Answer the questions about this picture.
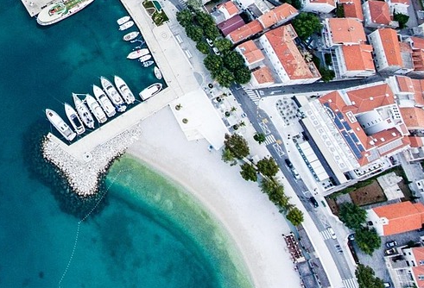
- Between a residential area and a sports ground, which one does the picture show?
residential area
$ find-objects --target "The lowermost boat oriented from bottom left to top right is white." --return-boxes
[137,83,162,101]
